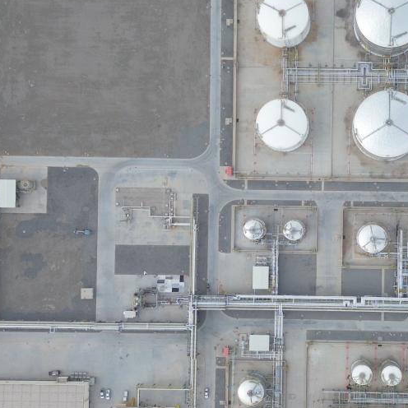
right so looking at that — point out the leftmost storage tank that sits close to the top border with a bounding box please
[256,0,312,51]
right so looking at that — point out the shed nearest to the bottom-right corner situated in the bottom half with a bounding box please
[249,334,270,351]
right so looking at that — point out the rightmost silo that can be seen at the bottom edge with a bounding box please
[379,360,403,388]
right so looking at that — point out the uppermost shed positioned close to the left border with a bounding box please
[0,180,19,208]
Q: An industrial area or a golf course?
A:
industrial area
